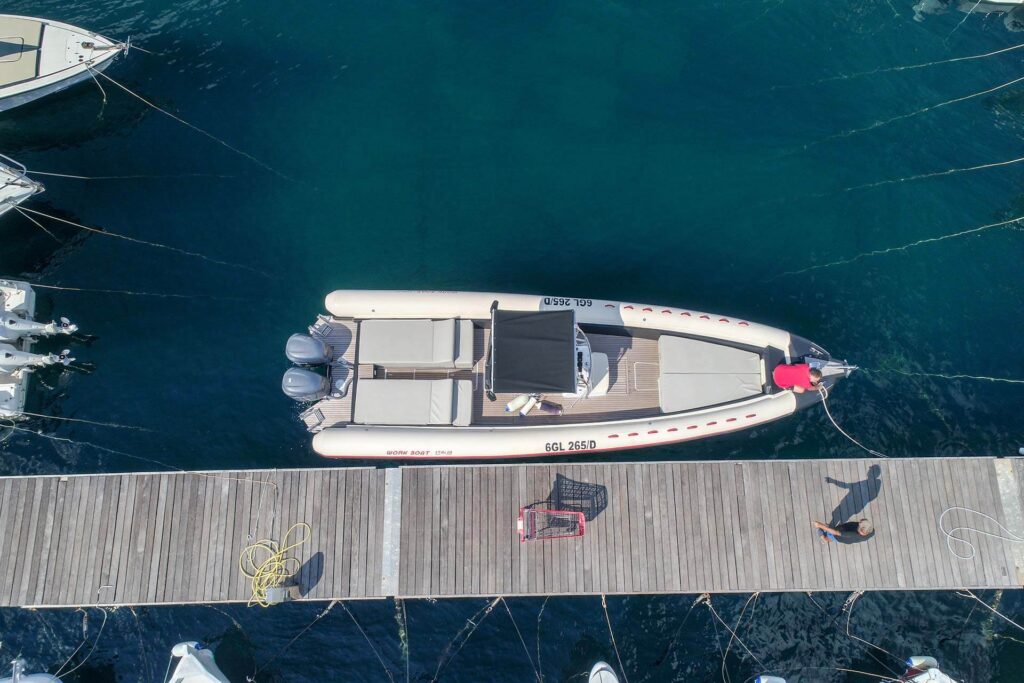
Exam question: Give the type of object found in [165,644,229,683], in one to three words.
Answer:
boat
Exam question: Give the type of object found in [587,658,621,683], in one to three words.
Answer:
boat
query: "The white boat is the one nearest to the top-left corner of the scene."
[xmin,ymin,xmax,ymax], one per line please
[0,14,132,111]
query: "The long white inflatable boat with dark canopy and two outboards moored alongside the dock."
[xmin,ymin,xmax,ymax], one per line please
[284,288,859,459]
